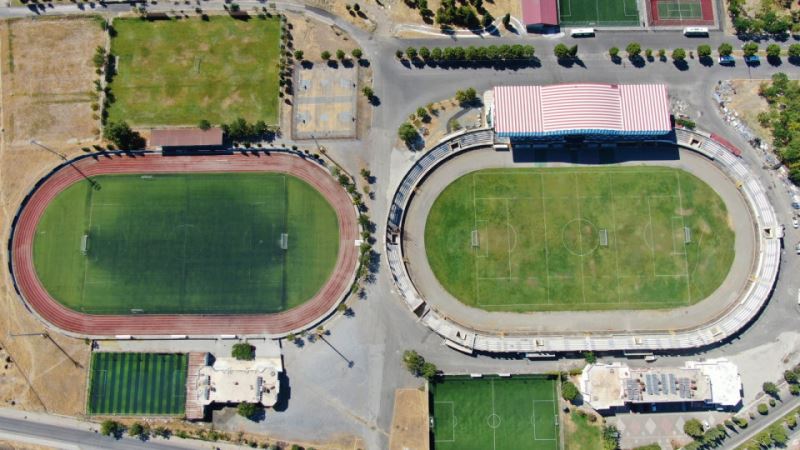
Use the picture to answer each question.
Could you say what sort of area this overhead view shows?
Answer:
sports ground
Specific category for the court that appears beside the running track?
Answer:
basketball court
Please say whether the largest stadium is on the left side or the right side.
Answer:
right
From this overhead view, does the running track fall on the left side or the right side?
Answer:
left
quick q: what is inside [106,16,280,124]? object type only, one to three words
soccer field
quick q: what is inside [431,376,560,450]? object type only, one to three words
soccer field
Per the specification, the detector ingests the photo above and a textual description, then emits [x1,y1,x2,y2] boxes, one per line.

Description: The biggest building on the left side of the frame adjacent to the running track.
[197,356,287,405]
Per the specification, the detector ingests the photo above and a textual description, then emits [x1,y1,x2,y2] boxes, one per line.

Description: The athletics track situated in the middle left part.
[9,151,363,338]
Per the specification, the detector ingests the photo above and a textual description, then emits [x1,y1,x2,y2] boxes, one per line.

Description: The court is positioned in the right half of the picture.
[646,0,716,25]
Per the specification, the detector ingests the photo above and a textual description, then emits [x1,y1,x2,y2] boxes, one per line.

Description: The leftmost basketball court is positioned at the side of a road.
[293,66,356,138]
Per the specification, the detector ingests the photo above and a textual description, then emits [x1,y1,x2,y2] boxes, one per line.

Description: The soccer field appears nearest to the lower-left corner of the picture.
[89,352,188,414]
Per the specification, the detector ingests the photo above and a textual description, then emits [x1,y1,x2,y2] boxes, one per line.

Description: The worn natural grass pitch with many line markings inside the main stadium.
[425,166,735,312]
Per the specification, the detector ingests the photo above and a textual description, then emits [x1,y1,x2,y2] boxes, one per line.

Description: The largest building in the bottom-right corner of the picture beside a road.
[574,357,742,409]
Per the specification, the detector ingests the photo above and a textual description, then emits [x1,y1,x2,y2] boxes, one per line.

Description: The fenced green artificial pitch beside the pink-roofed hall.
[559,0,640,26]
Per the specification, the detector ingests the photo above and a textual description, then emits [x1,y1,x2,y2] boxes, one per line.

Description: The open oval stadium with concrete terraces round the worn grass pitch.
[385,126,784,352]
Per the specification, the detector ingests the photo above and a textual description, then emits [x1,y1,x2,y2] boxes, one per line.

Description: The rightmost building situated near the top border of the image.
[521,0,559,28]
